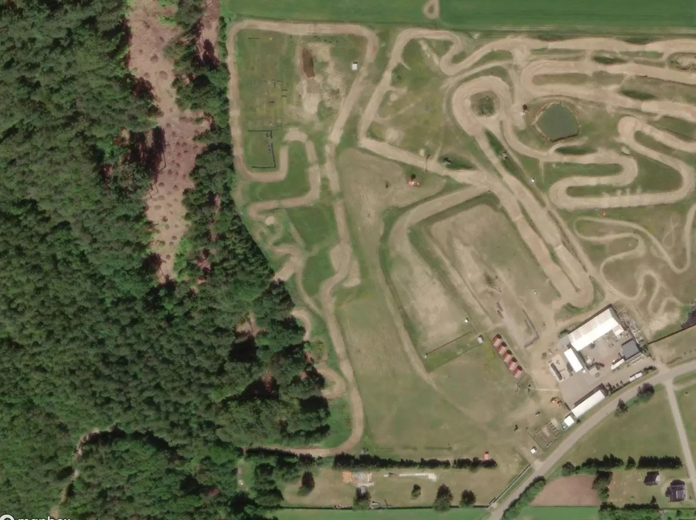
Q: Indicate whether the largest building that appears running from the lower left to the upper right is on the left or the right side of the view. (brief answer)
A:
right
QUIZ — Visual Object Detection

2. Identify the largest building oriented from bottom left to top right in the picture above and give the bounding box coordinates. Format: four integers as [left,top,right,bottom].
[568,309,621,350]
